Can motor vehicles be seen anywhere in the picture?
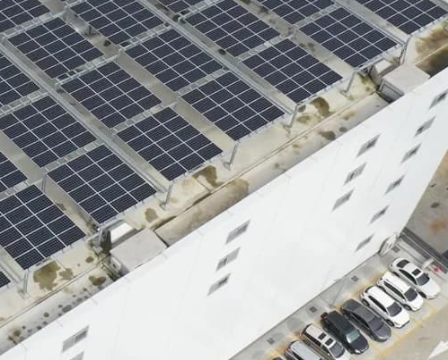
Yes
